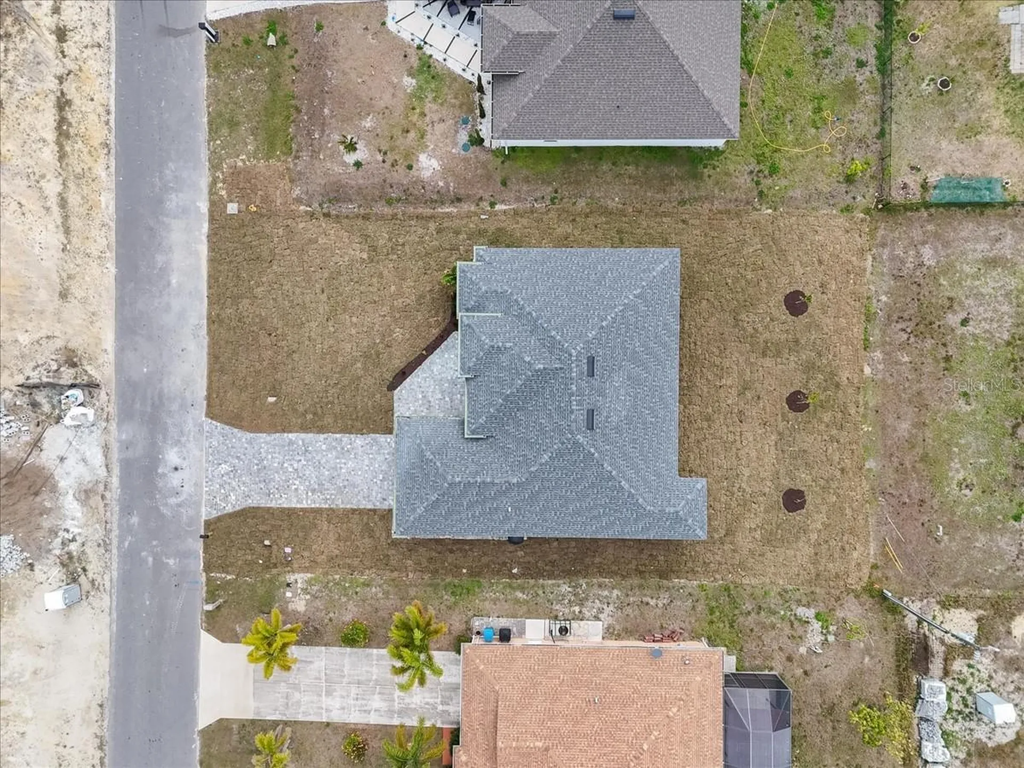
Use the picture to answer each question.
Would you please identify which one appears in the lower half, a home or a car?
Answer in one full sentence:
Looking in the lower half, you will find a home.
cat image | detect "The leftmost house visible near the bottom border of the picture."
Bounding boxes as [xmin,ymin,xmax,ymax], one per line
[451,634,727,768]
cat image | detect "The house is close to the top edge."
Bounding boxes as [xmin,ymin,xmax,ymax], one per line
[479,0,741,155]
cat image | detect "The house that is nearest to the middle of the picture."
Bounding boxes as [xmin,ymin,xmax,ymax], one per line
[392,245,708,540]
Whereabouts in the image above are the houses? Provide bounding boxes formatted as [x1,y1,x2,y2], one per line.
[392,245,708,540]
[479,0,741,155]
[451,634,727,768]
